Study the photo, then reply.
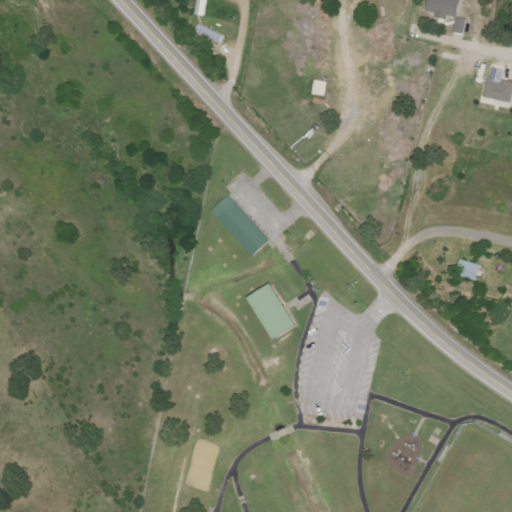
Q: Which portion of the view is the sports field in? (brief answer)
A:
bottom right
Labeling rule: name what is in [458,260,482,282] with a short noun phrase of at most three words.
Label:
house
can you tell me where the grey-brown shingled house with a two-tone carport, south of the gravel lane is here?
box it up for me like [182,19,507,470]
[484,66,512,102]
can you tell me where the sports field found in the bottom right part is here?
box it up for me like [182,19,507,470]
[414,424,512,512]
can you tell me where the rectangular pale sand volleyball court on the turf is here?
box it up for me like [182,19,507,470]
[188,440,218,491]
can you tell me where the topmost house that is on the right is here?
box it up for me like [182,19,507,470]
[426,0,466,34]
